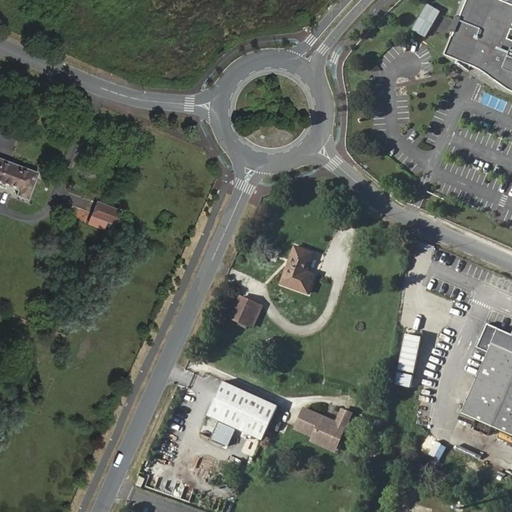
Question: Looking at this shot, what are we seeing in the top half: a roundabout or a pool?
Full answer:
The one visible in the top half is a roundabout.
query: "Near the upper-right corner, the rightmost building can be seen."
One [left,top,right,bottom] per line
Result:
[442,0,512,95]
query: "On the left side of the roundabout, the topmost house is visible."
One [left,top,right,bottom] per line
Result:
[0,156,40,204]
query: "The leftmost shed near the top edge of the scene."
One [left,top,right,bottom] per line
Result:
[412,4,440,38]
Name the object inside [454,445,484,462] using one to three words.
vehicle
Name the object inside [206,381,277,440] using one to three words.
building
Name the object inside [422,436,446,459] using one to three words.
shed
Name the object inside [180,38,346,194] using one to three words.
roundabout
